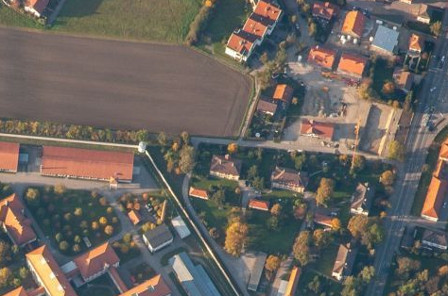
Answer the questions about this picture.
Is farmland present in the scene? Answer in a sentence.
Yes, farmland shows up in the scene.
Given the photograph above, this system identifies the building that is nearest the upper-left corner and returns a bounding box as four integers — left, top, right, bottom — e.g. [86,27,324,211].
[25,0,51,17]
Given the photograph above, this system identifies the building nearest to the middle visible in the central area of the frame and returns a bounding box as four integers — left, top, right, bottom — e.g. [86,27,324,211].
[211,154,243,177]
